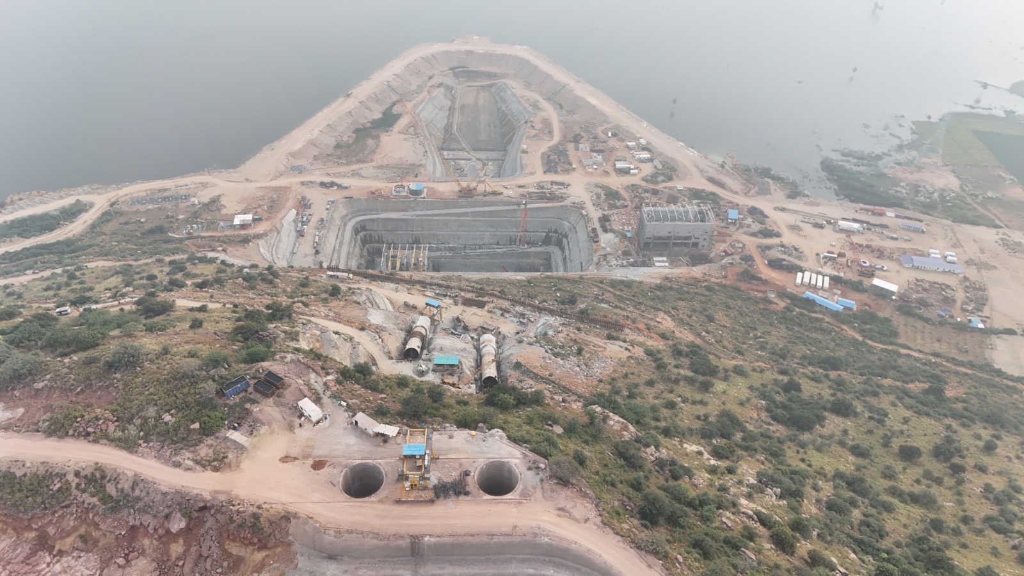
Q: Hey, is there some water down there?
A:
Yes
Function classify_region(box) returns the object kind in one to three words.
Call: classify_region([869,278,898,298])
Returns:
shed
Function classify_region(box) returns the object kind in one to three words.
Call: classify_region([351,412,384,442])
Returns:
building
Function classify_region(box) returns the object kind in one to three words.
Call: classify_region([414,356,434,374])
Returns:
vehicle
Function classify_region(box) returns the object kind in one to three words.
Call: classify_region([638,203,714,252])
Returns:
building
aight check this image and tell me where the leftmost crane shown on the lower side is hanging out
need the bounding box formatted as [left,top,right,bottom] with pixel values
[395,428,439,502]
